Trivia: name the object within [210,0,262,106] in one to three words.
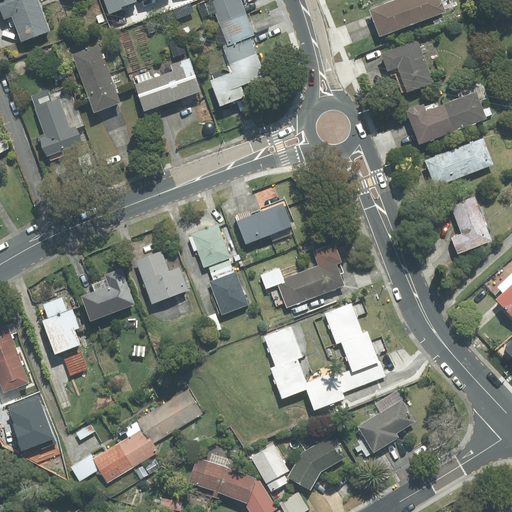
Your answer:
building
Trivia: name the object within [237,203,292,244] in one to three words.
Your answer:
house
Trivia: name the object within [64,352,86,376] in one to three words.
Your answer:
shed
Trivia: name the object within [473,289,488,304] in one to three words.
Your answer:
car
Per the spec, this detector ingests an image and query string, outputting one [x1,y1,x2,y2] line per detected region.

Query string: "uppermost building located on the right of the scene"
[370,0,445,36]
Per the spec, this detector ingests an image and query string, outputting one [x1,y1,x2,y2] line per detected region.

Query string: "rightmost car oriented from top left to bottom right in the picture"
[488,372,502,388]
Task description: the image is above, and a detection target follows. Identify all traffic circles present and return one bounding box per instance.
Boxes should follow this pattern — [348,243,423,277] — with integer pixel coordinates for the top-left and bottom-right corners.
[316,110,351,145]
